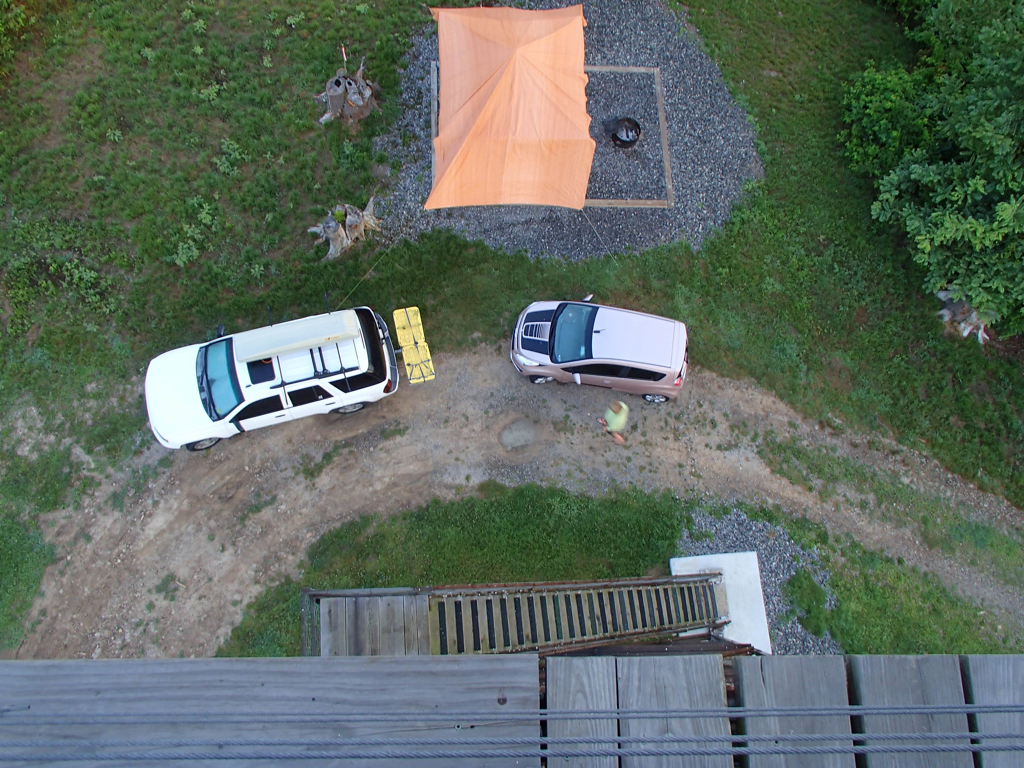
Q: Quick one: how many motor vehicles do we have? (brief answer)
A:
2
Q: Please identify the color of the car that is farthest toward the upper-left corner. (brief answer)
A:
white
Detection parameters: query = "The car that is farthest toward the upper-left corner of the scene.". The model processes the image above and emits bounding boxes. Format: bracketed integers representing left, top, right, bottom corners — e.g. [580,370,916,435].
[146,289,401,451]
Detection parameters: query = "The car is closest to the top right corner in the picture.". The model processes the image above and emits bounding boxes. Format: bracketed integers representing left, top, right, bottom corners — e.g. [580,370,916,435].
[510,297,693,404]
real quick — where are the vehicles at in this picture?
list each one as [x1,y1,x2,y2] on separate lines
[146,289,401,451]
[510,297,693,404]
